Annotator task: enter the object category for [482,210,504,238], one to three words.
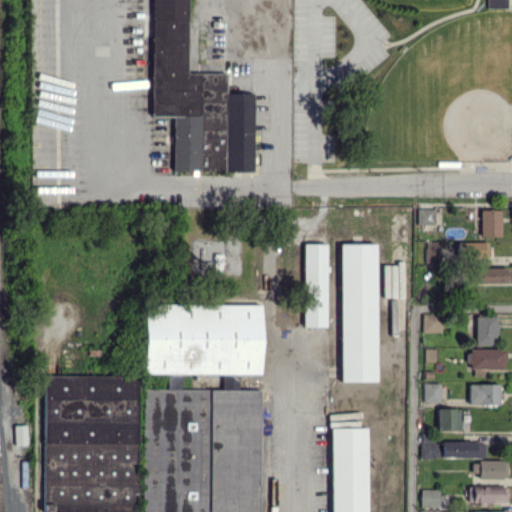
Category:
house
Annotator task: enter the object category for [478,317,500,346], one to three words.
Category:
house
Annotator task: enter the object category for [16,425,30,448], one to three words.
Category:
shed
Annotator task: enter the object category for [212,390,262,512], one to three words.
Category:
building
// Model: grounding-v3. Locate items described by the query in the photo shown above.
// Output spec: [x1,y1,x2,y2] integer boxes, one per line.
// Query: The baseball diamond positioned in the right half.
[366,12,512,162]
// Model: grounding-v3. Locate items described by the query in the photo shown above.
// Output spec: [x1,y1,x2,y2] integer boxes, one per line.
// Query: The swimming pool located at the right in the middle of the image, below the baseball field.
[446,228,468,240]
